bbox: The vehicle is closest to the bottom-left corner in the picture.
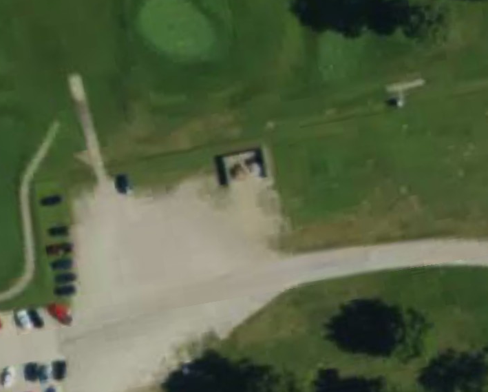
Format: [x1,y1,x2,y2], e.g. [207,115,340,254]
[2,365,16,386]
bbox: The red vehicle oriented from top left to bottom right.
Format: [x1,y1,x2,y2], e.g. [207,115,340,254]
[52,305,73,325]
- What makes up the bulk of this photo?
grass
